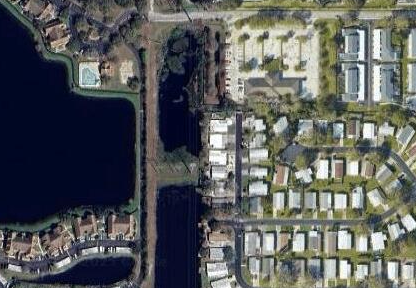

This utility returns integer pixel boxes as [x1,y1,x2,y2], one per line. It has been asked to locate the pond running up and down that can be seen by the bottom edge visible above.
[155,185,203,288]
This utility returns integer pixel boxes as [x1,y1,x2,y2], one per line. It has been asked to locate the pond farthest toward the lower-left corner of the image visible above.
[16,256,134,285]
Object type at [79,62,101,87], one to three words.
swimming pool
